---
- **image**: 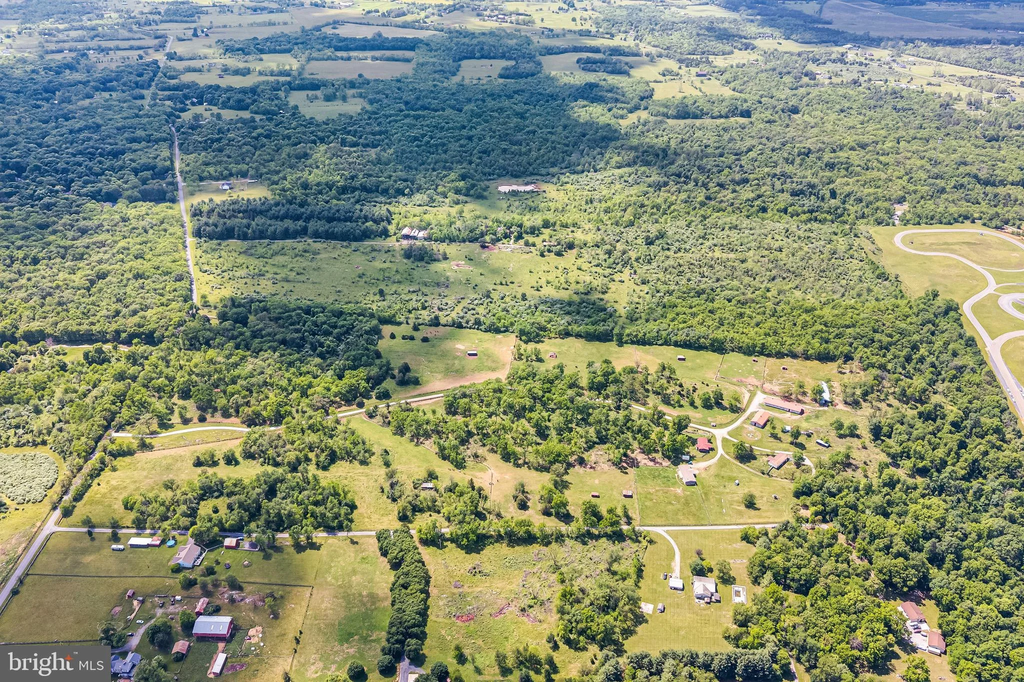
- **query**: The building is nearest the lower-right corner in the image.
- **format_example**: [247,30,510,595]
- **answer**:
[921,632,947,655]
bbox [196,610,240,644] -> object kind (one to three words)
barn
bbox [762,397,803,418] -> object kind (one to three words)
building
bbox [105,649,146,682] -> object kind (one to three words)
house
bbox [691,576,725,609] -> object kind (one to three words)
house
